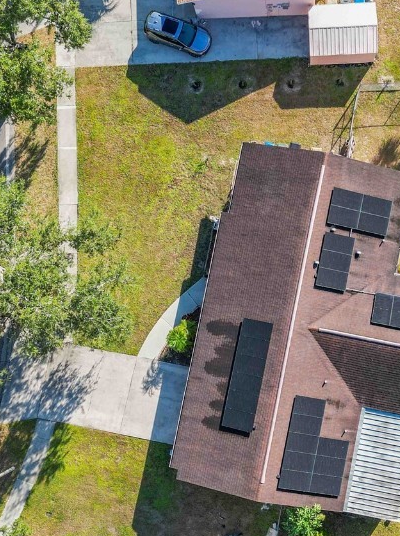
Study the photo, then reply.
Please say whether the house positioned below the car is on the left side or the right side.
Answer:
right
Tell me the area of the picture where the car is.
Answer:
top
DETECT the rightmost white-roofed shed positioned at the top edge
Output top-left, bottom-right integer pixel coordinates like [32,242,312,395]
[308,1,377,65]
